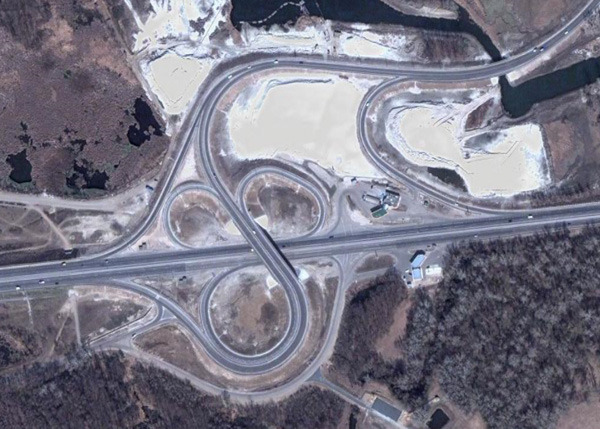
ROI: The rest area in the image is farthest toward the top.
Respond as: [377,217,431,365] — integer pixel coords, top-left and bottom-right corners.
[329,181,457,236]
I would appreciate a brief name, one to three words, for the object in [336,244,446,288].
service area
